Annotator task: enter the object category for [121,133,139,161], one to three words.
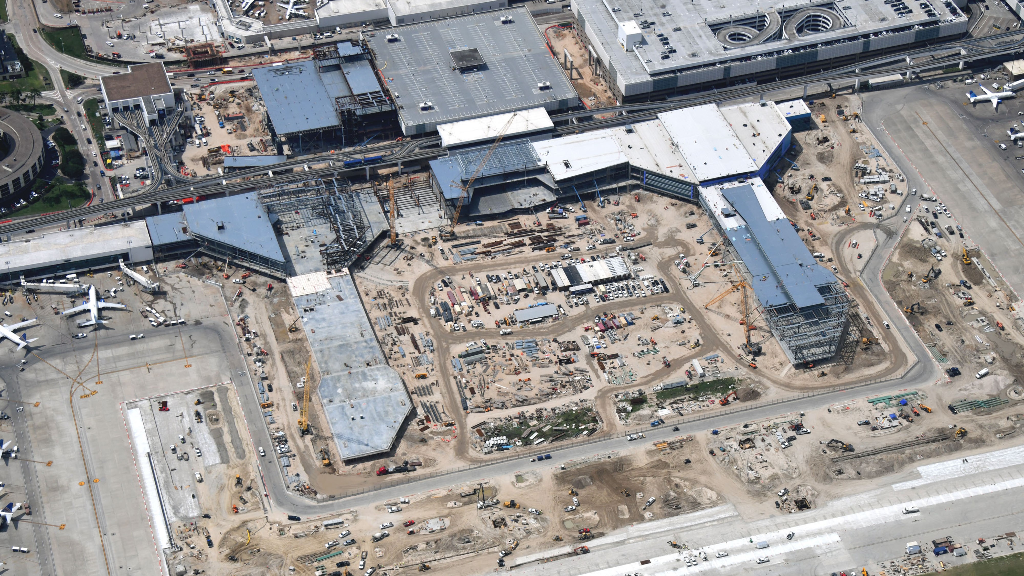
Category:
shed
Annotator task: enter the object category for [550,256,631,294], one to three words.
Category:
building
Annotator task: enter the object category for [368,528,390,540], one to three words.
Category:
vehicle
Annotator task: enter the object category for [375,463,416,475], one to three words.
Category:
vehicle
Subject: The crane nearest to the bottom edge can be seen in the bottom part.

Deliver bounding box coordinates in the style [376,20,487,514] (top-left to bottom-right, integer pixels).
[295,354,315,441]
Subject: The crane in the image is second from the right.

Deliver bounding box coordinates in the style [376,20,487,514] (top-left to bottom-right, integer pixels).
[431,114,517,242]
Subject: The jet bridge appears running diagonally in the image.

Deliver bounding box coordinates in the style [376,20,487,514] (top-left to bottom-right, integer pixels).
[118,258,157,292]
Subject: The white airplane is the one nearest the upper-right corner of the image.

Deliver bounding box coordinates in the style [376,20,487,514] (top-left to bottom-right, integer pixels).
[963,79,1015,106]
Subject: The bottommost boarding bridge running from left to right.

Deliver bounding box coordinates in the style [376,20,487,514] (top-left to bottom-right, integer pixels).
[19,275,88,297]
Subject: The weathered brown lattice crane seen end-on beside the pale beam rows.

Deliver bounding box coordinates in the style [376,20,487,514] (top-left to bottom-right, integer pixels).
[383,178,405,250]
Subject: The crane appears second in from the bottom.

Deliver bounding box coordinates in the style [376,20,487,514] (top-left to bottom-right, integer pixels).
[705,278,761,356]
